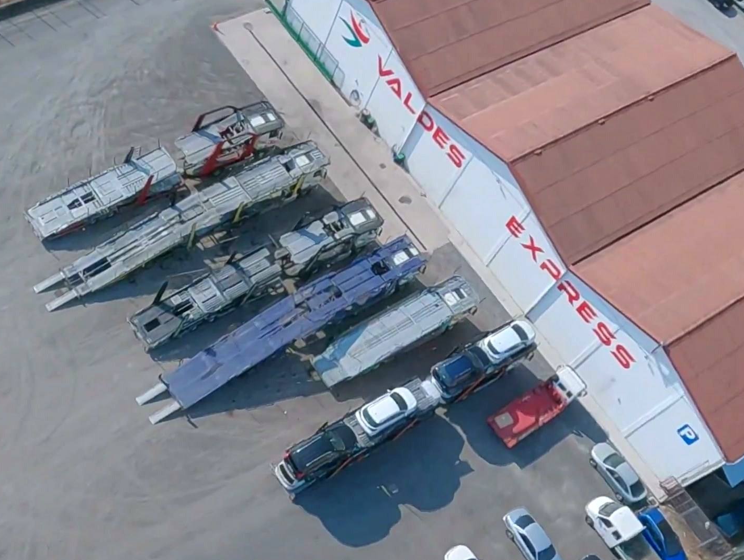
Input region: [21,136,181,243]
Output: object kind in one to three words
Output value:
trailer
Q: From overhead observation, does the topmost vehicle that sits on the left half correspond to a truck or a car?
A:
truck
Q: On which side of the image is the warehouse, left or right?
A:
right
